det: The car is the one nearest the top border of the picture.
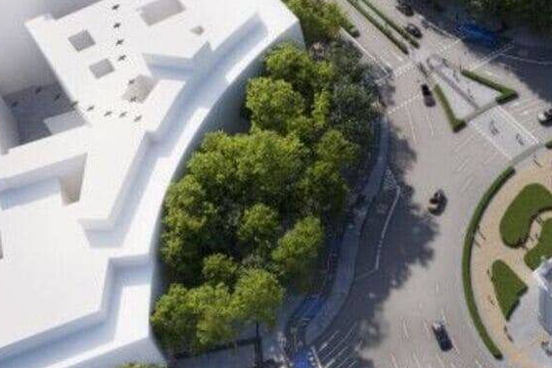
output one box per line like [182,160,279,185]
[397,0,411,13]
